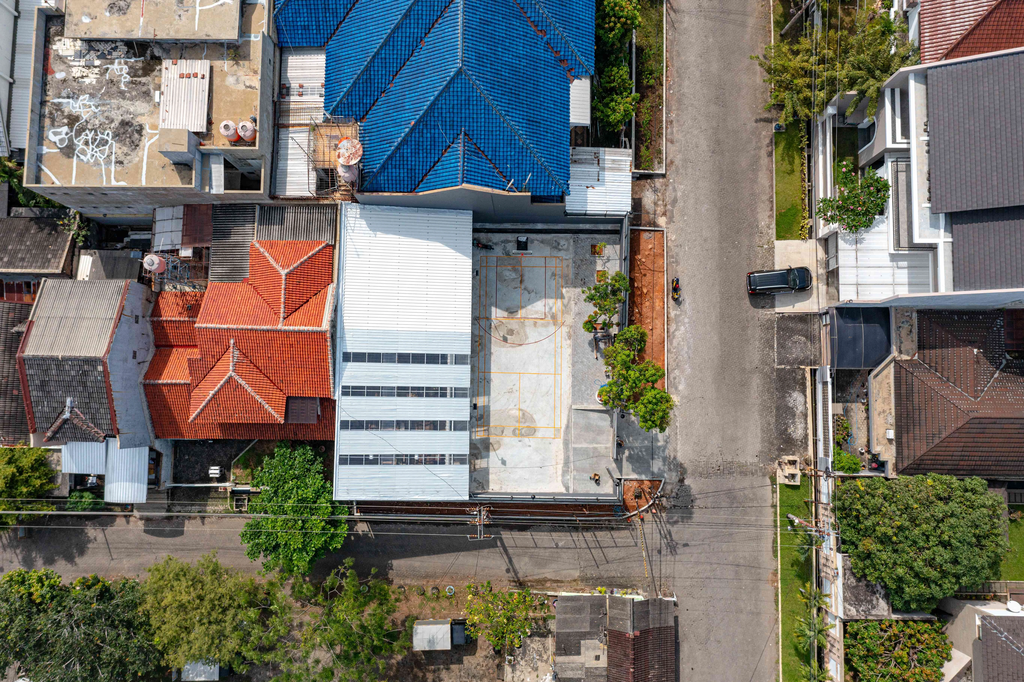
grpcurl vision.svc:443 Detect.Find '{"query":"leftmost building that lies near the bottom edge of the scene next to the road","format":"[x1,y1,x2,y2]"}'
[555,580,675,682]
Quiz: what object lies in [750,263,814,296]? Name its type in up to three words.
car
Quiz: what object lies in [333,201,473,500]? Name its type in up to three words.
building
